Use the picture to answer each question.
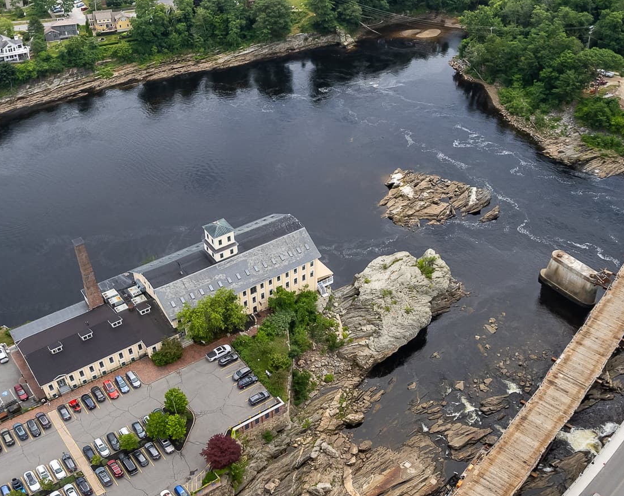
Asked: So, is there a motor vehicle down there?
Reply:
Yes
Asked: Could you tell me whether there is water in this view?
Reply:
Yes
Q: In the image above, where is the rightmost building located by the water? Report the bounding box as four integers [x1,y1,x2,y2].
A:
[129,214,340,353]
